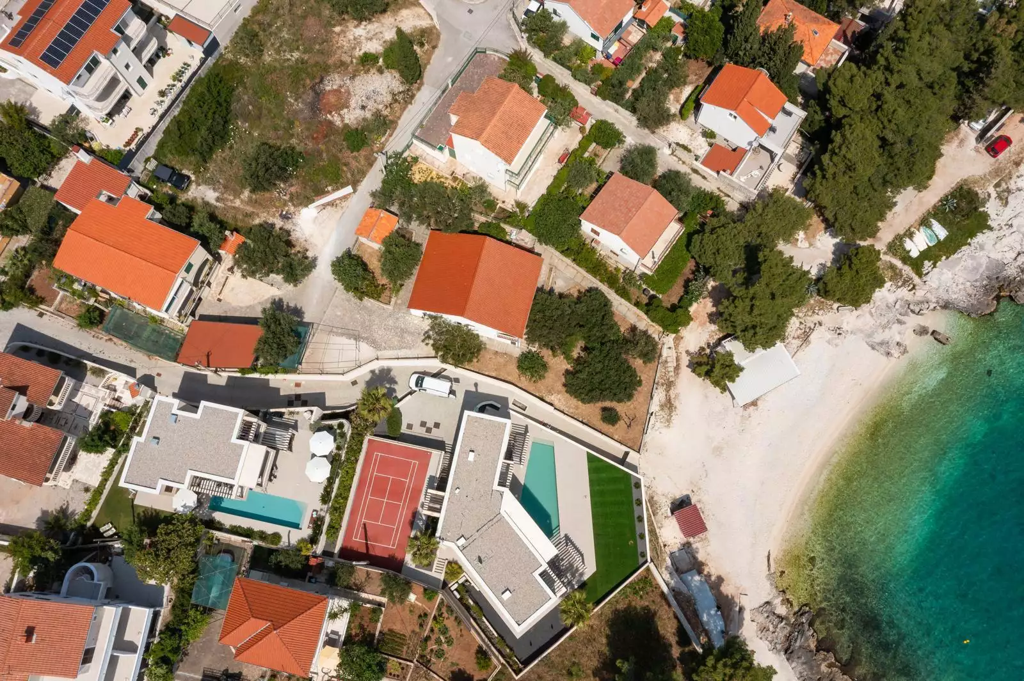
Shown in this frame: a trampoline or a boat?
boat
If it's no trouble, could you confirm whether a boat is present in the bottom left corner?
No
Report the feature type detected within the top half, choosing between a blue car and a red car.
red car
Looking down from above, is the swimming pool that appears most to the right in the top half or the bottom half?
bottom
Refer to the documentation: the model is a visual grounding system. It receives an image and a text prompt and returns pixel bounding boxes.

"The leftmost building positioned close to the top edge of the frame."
[0,0,162,122]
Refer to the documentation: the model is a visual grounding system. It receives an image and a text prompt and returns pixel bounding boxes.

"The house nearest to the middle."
[408,230,544,350]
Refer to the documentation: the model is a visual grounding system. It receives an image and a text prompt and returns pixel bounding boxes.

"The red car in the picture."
[982,134,1012,161]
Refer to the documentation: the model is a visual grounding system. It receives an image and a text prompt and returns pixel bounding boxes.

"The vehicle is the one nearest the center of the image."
[413,375,452,399]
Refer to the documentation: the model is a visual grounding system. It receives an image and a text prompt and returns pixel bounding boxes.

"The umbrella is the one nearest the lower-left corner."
[175,490,199,512]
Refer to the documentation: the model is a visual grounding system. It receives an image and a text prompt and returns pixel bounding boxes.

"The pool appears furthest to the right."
[520,438,559,538]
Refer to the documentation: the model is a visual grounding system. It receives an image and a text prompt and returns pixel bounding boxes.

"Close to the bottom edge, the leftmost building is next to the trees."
[0,560,162,681]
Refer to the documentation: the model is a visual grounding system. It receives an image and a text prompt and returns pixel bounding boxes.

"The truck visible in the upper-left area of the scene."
[152,162,192,191]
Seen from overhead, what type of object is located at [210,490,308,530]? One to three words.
swimming pool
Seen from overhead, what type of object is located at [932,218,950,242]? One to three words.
boat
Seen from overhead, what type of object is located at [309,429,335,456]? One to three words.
umbrella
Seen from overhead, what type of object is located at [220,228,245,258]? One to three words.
house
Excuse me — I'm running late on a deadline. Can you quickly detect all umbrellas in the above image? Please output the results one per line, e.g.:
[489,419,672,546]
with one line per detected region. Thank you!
[309,429,335,456]
[306,456,332,482]
[603,45,621,64]
[317,646,342,669]
[175,490,199,512]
